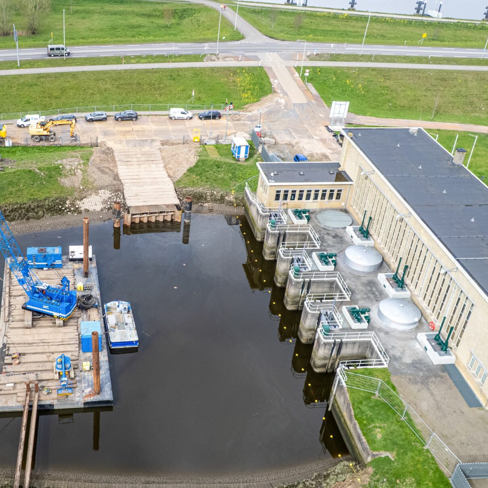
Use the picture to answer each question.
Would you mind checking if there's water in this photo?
Yes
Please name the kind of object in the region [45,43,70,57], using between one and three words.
vehicle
